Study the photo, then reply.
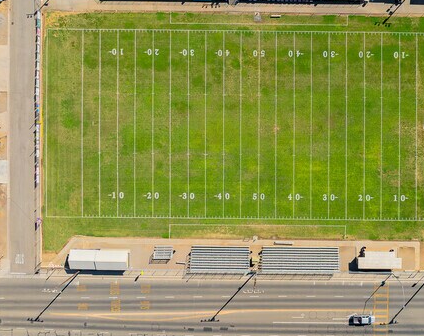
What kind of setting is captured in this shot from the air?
sports ground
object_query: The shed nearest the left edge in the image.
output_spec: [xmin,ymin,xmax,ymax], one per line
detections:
[68,248,97,269]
